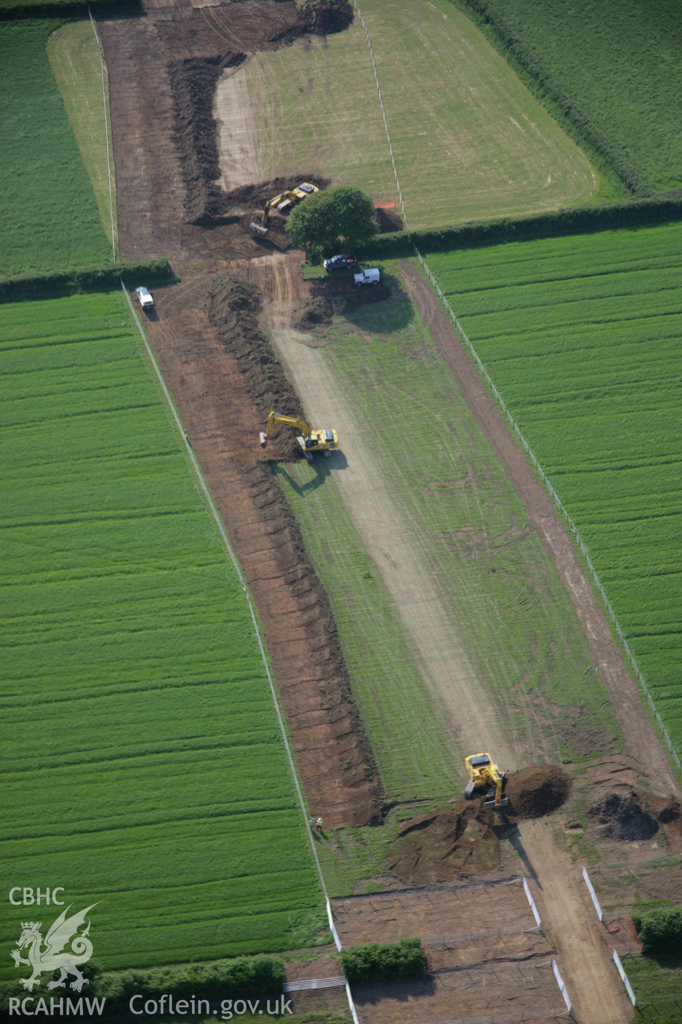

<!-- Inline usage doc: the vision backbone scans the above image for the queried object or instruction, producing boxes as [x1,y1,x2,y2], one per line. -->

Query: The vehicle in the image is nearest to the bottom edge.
[463,756,514,820]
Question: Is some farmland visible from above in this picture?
Yes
